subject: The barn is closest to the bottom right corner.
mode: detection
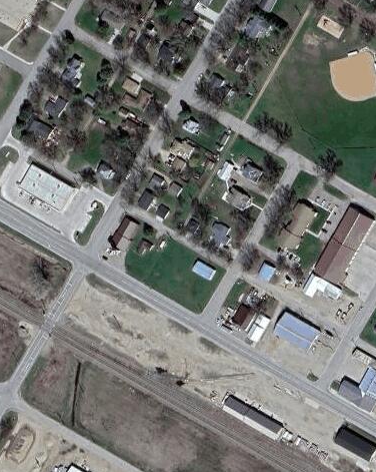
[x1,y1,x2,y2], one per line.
[334,425,376,462]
